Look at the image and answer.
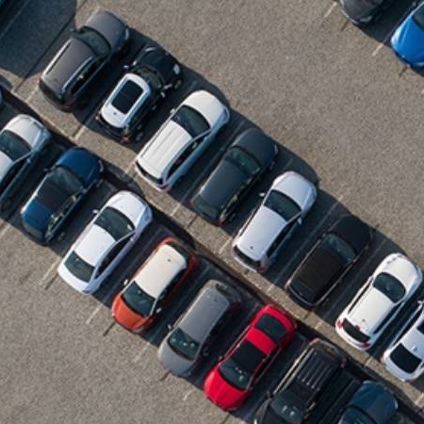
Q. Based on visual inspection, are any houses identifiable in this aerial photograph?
No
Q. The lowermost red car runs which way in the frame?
diagonally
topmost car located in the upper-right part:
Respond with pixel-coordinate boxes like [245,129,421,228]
[344,0,405,37]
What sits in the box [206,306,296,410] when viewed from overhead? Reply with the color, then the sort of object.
red car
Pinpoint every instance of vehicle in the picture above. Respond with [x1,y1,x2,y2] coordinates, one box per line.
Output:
[344,0,405,37]
[253,337,349,424]
[383,298,424,379]
[114,237,199,331]
[134,90,228,193]
[57,191,152,296]
[333,253,422,352]
[35,8,132,114]
[15,147,106,245]
[395,8,424,79]
[206,306,296,410]
[159,278,244,373]
[190,128,279,227]
[331,382,397,424]
[0,115,52,208]
[228,174,317,273]
[284,212,373,312]
[97,48,179,140]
